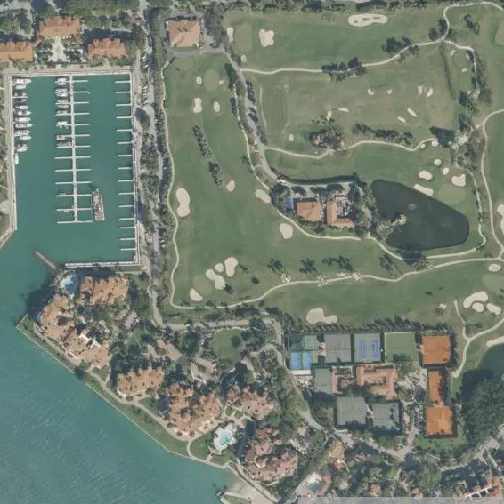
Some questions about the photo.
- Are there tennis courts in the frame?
Yes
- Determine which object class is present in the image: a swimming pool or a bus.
swimming pool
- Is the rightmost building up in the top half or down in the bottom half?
bottom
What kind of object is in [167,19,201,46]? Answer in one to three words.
building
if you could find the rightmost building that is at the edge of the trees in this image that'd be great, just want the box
[454,471,504,504]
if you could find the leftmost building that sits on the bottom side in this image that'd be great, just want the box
[37,290,76,343]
